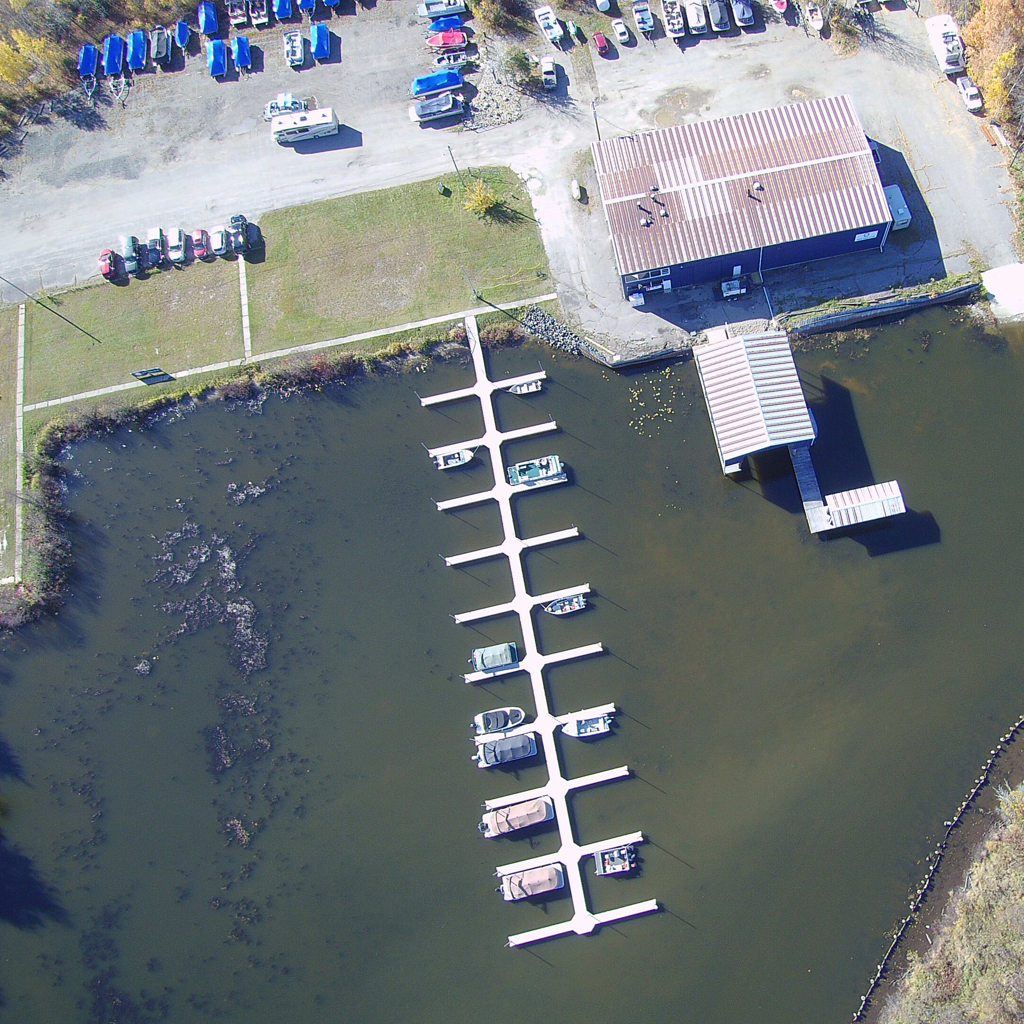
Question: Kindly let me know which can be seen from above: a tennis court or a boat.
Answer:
boat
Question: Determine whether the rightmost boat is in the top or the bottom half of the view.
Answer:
top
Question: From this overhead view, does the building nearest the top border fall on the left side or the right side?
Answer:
right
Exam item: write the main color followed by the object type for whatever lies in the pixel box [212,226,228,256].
white car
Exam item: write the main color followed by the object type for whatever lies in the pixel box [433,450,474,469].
white boat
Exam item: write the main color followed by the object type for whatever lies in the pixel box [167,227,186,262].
white car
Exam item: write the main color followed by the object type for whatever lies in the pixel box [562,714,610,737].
white boat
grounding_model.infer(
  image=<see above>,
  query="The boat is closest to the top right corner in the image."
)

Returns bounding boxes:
[929,19,963,78]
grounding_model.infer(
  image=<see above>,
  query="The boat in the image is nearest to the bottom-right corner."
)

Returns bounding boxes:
[596,846,632,876]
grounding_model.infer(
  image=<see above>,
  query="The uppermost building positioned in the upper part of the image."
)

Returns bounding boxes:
[590,95,891,299]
